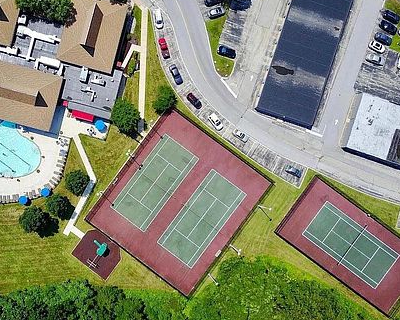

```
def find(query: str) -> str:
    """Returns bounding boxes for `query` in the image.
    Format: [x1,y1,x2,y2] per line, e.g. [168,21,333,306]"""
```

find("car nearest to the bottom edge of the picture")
[283,164,302,177]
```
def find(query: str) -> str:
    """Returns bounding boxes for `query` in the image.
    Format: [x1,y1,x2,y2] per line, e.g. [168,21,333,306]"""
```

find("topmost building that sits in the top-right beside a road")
[252,0,357,130]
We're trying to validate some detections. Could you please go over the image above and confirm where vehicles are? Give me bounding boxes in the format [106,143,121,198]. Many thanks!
[206,114,223,131]
[204,0,223,7]
[283,164,302,177]
[363,53,382,64]
[158,38,169,60]
[367,43,385,54]
[186,92,201,110]
[152,9,164,30]
[169,65,181,84]
[372,34,392,46]
[206,7,226,19]
[231,129,249,145]
[381,11,400,24]
[377,21,397,34]
[217,47,236,58]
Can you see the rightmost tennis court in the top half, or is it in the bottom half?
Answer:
bottom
